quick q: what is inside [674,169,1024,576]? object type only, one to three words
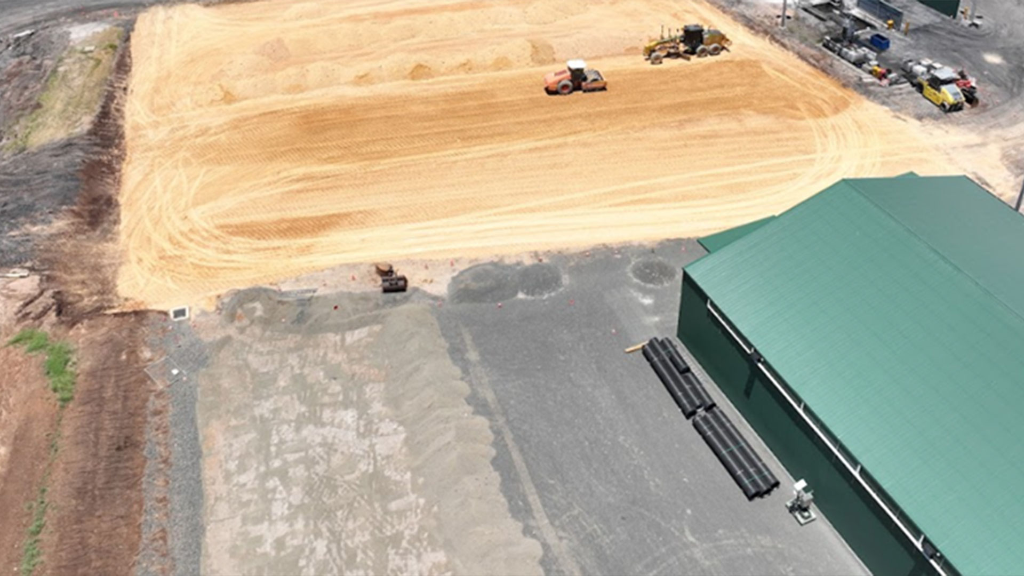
shed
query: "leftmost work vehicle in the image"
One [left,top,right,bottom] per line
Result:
[546,53,610,94]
